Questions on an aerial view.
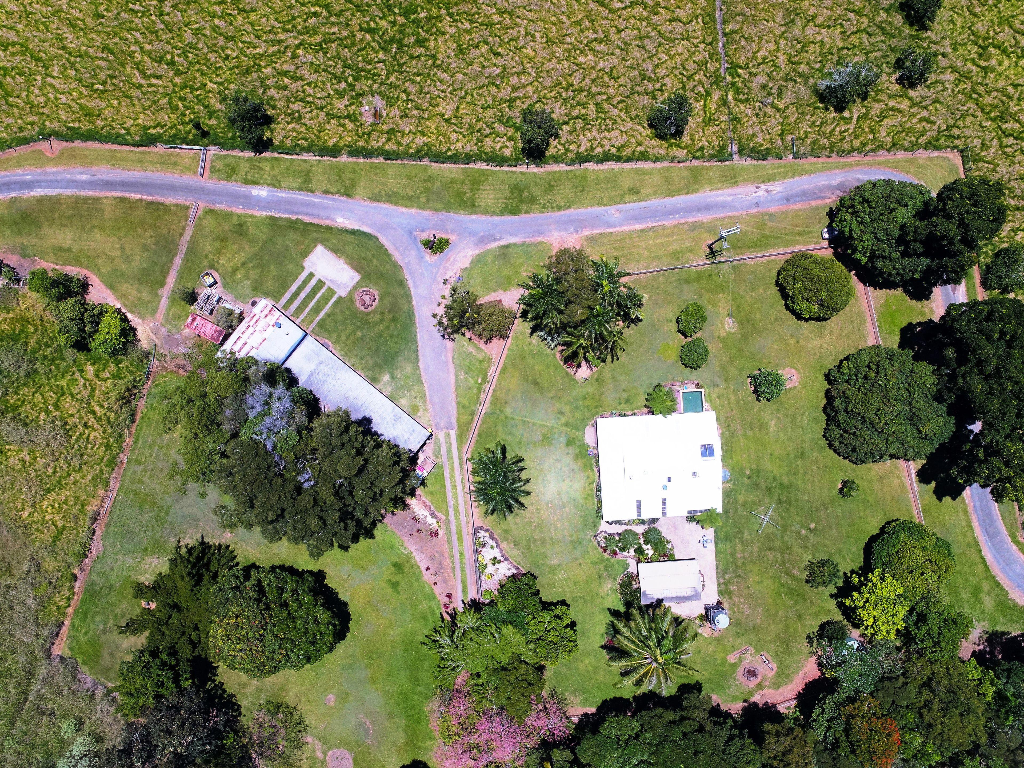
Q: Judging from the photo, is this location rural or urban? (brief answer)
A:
rural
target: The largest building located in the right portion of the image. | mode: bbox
[595,411,723,520]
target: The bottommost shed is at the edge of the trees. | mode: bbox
[635,555,701,605]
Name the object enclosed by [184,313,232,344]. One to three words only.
shed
